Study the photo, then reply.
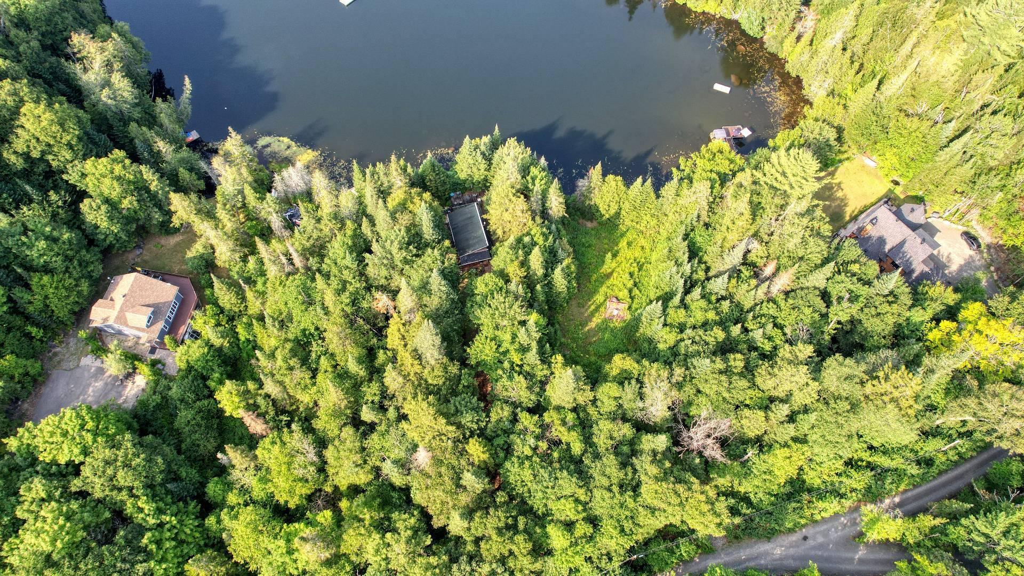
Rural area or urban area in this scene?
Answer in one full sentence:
The area shown here is rural.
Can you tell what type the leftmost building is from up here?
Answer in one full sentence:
The leftmost building is a residential house.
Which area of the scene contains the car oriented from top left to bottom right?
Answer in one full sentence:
The car oriented from top left to bottom right appears toward the right of the photo.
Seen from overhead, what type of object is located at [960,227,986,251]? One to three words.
car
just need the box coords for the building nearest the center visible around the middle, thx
[446,201,492,271]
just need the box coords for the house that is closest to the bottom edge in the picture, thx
[90,273,189,352]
